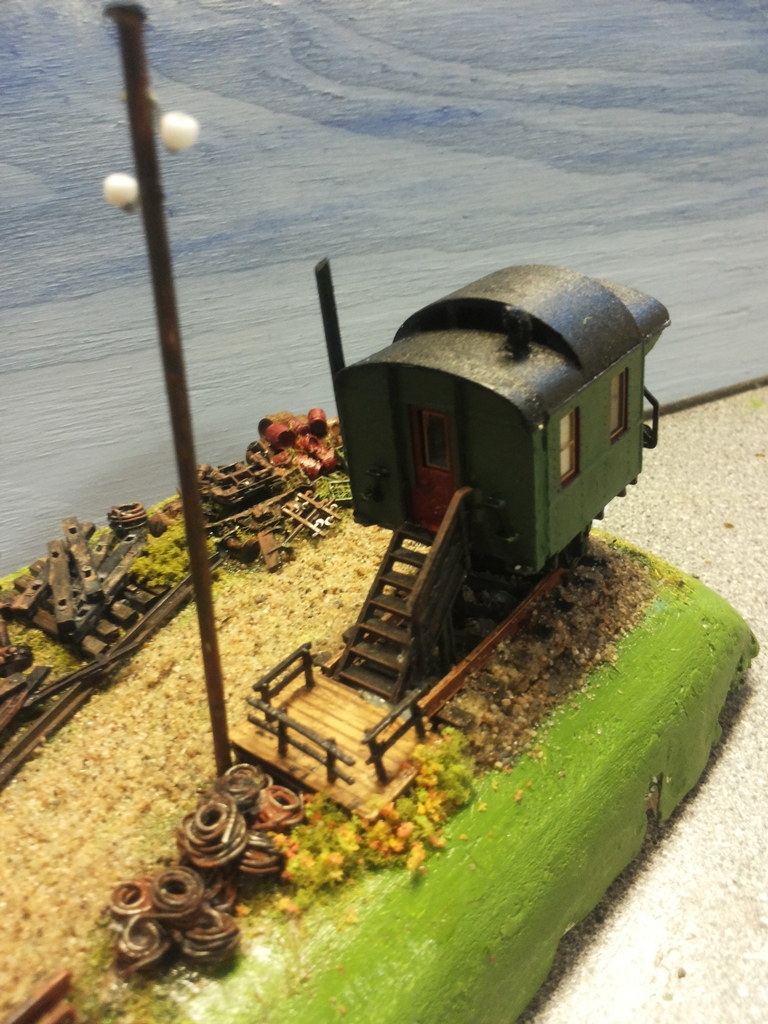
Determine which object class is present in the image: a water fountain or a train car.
train car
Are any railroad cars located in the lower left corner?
No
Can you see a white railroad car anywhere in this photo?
No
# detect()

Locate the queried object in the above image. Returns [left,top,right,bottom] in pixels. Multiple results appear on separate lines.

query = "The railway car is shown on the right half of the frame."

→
[317,258,669,592]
